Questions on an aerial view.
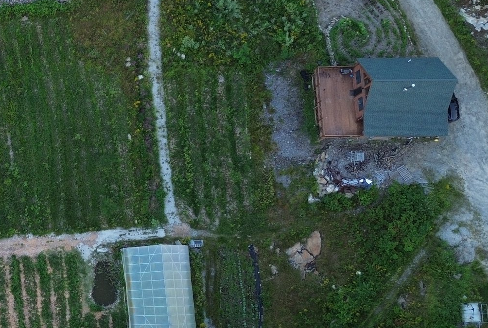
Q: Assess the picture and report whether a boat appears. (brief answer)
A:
No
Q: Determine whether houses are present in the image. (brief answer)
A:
Yes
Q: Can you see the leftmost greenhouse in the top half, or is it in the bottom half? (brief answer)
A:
bottom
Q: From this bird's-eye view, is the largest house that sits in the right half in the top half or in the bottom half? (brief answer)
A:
top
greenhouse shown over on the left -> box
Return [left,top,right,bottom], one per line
[118,245,195,328]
